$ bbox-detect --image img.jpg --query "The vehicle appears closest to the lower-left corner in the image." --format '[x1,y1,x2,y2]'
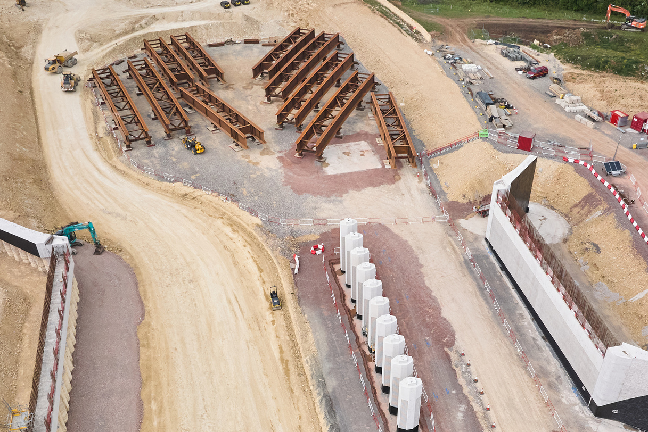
[54,219,113,253]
